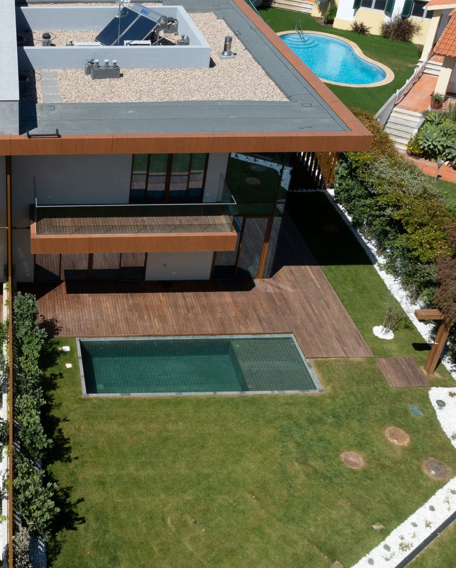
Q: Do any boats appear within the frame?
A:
No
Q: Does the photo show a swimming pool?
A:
Yes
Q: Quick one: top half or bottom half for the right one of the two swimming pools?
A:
top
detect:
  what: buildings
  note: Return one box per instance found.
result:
[0,0,373,284]
[334,0,456,114]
